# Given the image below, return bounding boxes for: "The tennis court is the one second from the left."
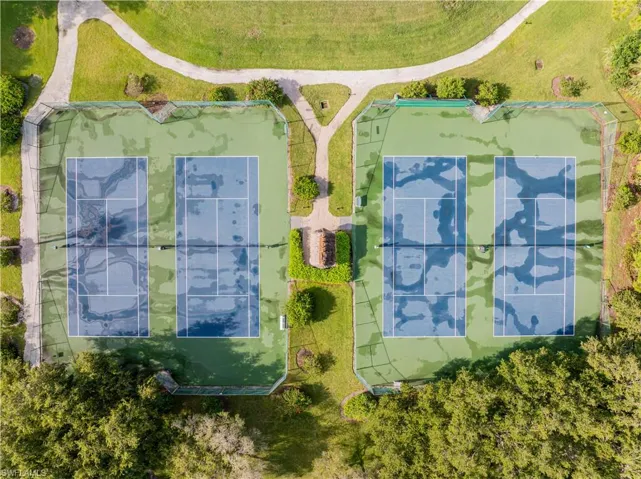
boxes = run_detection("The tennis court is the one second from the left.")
[175,157,260,337]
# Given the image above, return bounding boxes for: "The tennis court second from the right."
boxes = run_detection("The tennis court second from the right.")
[383,156,467,337]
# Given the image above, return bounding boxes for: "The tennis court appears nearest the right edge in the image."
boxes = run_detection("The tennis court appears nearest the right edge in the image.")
[494,157,577,336]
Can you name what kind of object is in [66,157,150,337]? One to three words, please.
tennis court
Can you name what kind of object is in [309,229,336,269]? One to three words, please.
shed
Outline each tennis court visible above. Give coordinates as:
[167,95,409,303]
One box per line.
[175,157,260,337]
[494,157,577,336]
[383,156,467,337]
[66,157,150,337]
